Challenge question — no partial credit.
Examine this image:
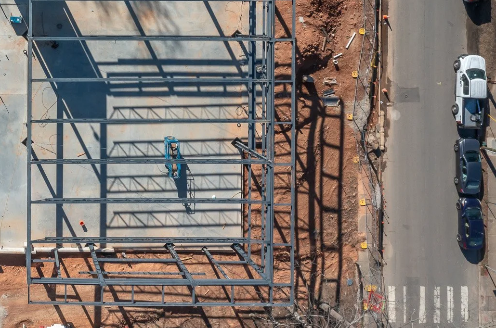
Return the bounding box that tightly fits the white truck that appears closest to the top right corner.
[454,55,489,125]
